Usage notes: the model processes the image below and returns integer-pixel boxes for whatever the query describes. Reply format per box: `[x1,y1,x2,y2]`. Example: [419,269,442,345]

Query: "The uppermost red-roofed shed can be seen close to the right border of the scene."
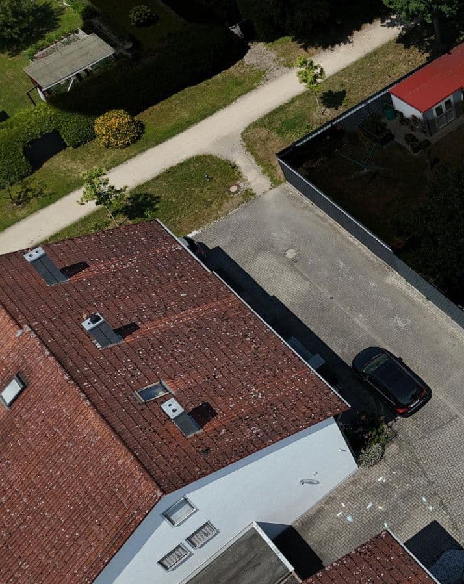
[389,38,464,137]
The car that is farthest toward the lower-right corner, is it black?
Yes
